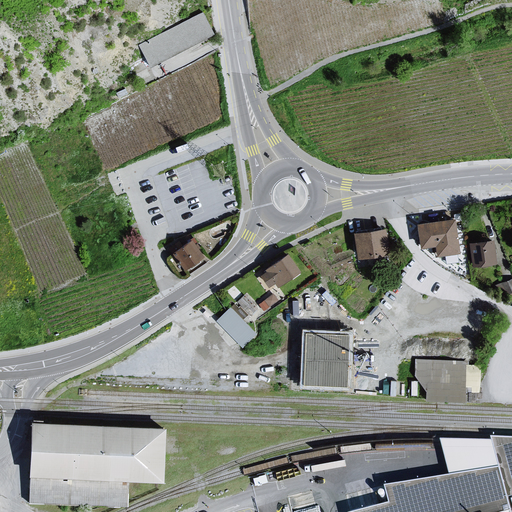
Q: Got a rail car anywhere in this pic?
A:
Yes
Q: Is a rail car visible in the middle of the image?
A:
No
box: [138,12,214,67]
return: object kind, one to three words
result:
building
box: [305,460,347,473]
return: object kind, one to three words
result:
vehicle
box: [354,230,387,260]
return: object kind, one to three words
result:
house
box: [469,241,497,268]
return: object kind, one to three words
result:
house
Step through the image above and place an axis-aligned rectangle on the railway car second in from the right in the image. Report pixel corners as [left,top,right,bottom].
[339,443,374,456]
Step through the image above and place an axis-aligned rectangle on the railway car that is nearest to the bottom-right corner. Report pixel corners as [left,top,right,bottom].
[374,437,436,450]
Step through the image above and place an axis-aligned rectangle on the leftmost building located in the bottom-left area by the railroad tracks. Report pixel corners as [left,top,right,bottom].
[30,424,166,508]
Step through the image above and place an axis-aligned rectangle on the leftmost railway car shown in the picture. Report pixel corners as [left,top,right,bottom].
[242,459,290,477]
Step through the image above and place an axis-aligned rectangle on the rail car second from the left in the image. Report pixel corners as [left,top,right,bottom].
[289,449,338,466]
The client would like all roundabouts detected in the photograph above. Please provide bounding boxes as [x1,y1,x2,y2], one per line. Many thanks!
[250,126,340,250]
